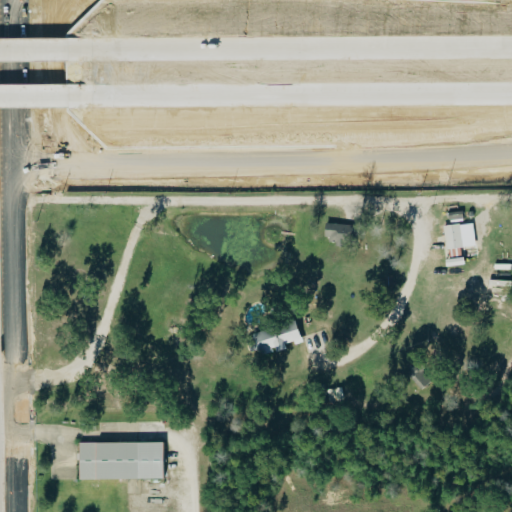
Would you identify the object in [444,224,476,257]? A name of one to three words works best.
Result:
house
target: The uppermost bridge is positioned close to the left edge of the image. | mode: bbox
[0,36,86,62]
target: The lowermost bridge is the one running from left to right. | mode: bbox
[0,83,86,108]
